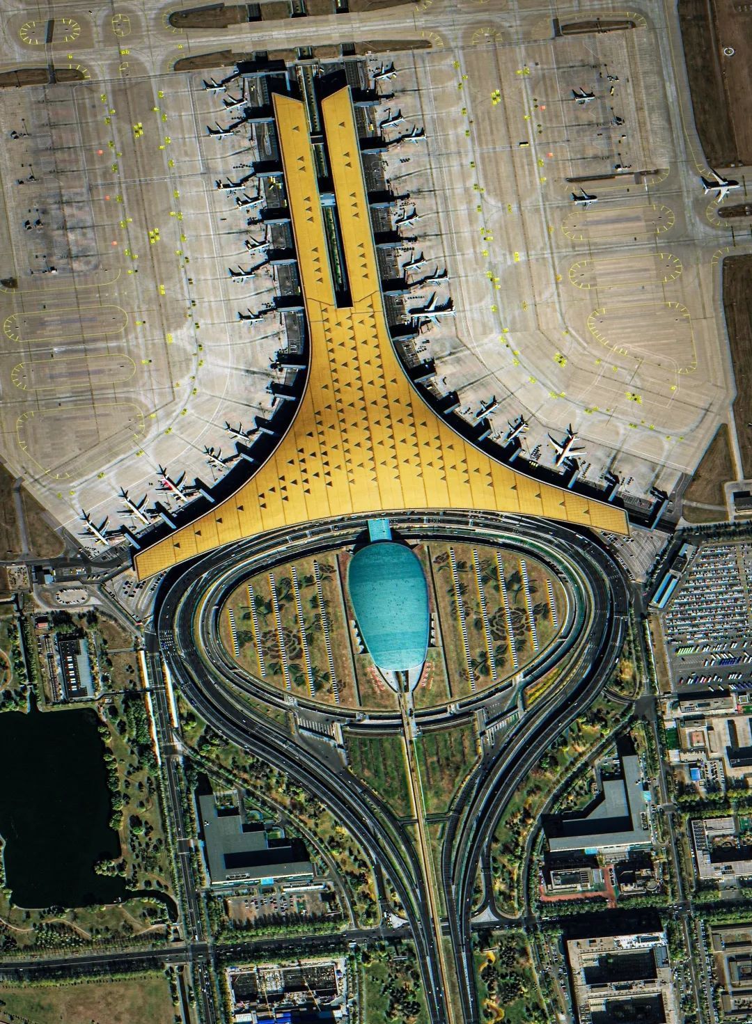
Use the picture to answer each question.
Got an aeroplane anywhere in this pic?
Yes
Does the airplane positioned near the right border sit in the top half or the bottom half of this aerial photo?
top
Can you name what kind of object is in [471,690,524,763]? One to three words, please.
toll station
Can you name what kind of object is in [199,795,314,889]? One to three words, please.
building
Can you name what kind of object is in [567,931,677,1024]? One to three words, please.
building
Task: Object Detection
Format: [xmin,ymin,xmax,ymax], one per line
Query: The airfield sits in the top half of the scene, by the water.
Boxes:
[0,0,752,566]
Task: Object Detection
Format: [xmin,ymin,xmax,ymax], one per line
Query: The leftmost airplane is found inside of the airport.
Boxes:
[78,515,109,546]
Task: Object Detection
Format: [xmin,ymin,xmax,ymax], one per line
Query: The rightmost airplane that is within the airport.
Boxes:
[704,170,739,204]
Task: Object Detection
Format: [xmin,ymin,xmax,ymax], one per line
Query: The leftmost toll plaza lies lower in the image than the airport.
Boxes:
[289,713,344,774]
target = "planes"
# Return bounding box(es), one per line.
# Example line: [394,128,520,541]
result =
[574,189,597,211]
[227,423,250,443]
[704,170,739,204]
[232,266,255,288]
[224,95,247,116]
[218,175,245,201]
[574,89,596,109]
[236,192,265,217]
[404,253,427,273]
[157,470,188,502]
[78,515,109,546]
[119,494,150,525]
[505,417,530,440]
[551,432,586,468]
[246,237,269,259]
[477,397,501,419]
[380,110,405,131]
[206,80,226,98]
[410,290,457,333]
[427,266,450,289]
[204,447,227,467]
[209,123,233,145]
[396,208,419,230]
[405,127,427,148]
